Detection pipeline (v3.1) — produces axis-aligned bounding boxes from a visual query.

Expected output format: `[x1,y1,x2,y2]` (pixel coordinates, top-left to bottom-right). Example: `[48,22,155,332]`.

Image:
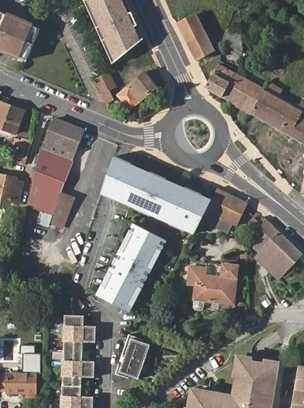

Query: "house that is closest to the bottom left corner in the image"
[0,371,38,398]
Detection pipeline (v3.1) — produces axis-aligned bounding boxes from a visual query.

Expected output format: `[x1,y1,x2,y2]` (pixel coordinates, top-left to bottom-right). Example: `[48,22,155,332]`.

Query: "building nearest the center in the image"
[102,154,212,234]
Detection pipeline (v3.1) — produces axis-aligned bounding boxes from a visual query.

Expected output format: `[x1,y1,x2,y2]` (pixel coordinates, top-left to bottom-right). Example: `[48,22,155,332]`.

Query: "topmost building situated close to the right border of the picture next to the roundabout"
[207,64,304,144]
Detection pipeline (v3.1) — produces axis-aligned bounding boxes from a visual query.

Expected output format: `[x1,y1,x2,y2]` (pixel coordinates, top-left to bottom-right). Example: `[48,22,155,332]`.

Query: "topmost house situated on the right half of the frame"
[177,13,216,61]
